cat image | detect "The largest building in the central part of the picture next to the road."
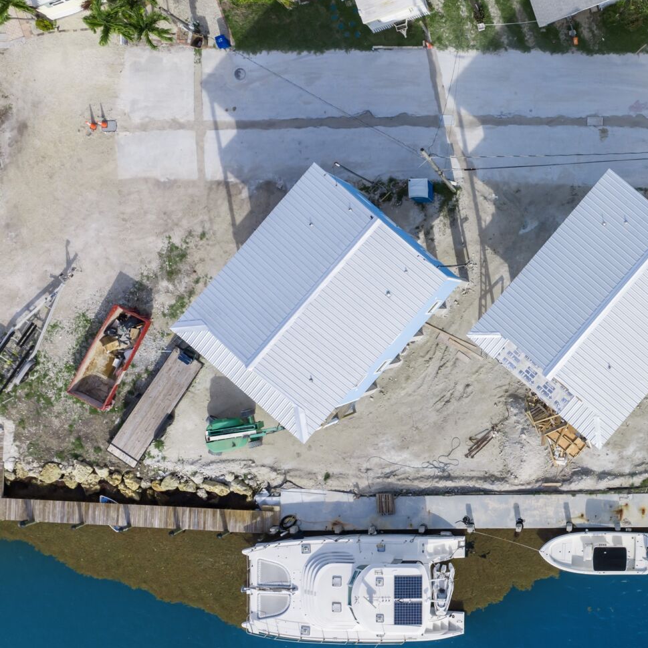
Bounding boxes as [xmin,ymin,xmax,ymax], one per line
[172,162,489,442]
